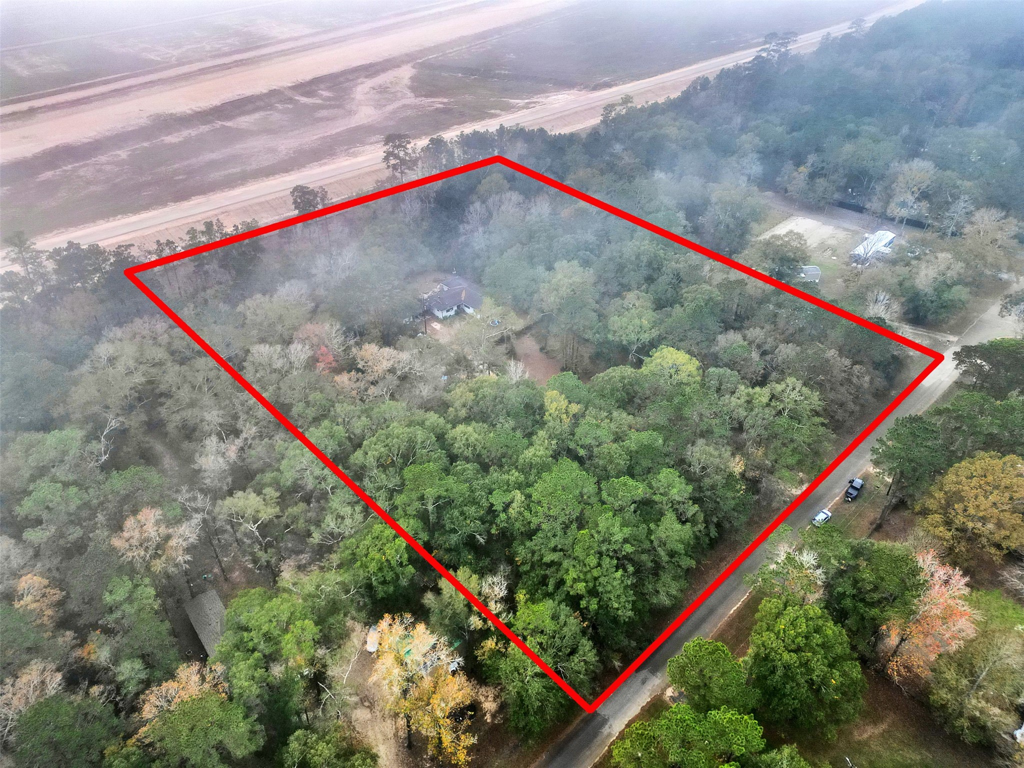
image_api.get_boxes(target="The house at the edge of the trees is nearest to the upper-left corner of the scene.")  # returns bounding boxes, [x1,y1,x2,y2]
[424,275,508,320]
